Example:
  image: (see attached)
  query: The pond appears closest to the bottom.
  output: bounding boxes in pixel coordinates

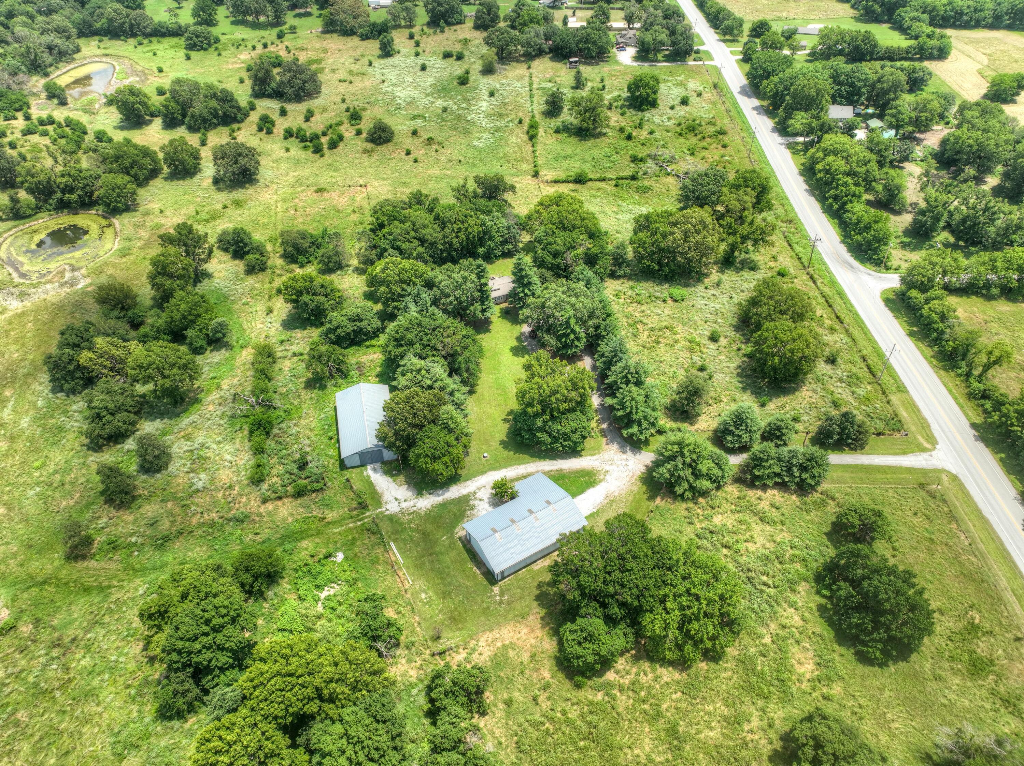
[0,215,114,278]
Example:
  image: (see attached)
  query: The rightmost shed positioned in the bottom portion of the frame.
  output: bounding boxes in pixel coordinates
[462,472,588,583]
